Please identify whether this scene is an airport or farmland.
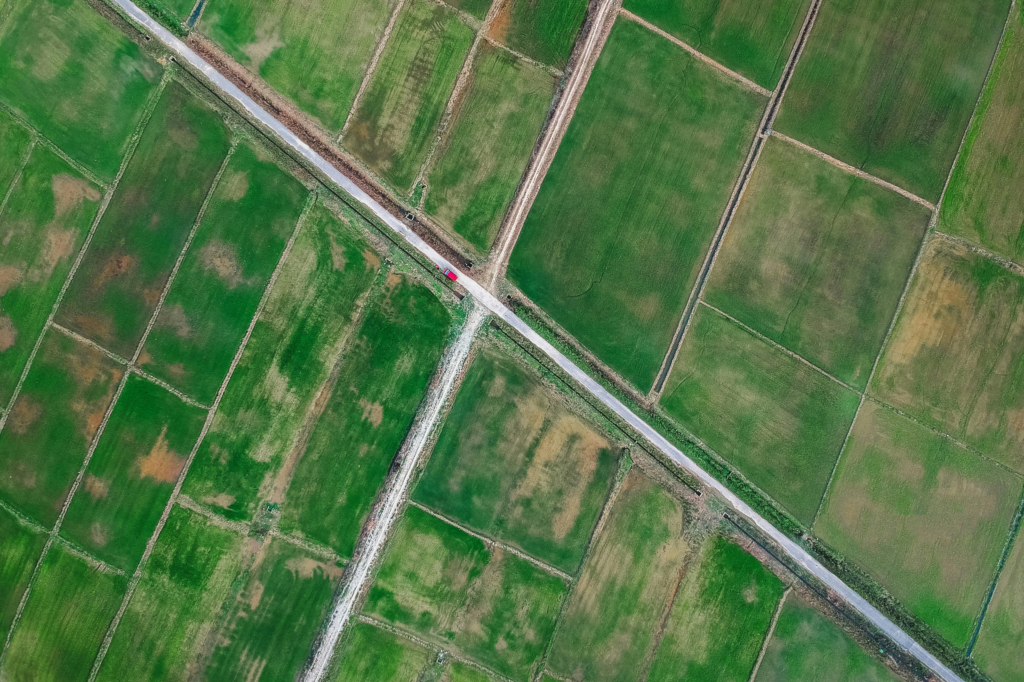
farmland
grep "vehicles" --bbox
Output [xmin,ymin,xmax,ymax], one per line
[442,267,458,281]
